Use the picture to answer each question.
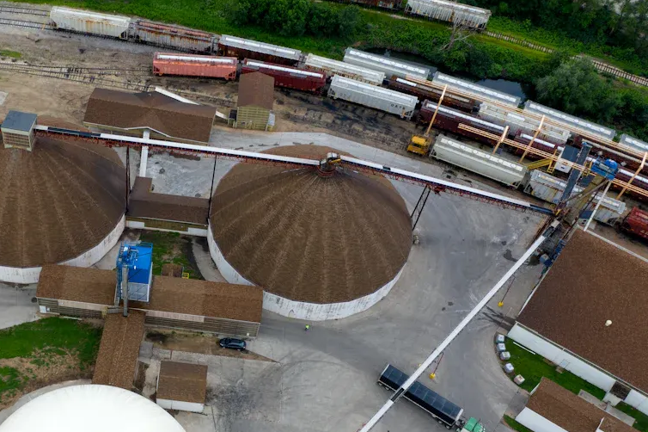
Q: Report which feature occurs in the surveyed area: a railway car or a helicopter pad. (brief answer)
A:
railway car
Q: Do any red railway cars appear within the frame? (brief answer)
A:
Yes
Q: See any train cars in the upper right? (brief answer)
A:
Yes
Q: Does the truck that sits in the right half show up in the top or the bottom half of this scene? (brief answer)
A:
bottom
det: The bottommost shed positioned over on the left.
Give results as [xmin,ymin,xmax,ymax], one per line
[156,359,207,412]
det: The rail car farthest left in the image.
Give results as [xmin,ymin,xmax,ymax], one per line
[52,7,131,39]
